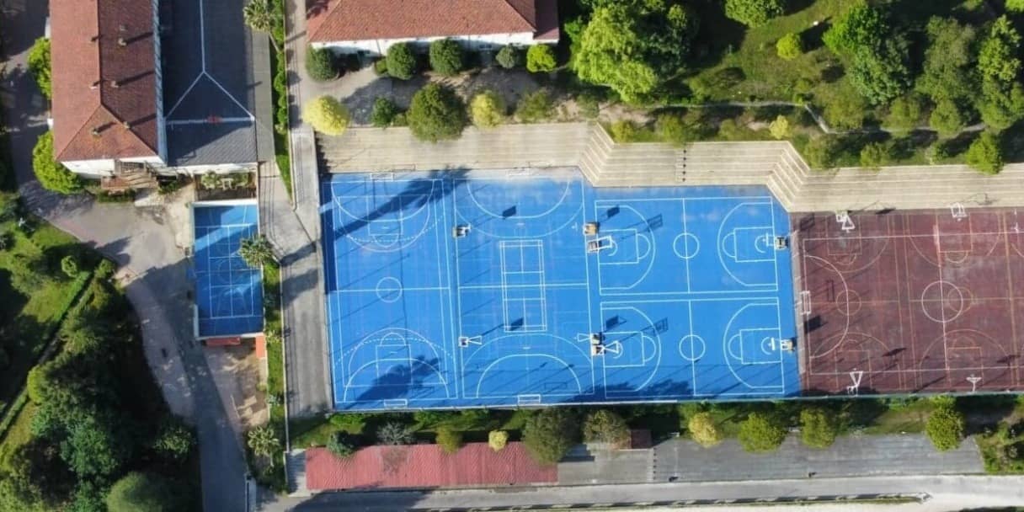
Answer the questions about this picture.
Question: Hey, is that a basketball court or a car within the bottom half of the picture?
basketball court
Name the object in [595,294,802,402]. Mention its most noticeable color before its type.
blue basketball court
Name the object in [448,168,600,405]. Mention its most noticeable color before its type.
blue sports court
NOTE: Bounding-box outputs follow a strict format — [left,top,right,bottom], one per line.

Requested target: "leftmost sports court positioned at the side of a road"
[192,198,267,340]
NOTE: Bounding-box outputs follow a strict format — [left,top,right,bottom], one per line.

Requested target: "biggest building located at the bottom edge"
[305,442,558,490]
